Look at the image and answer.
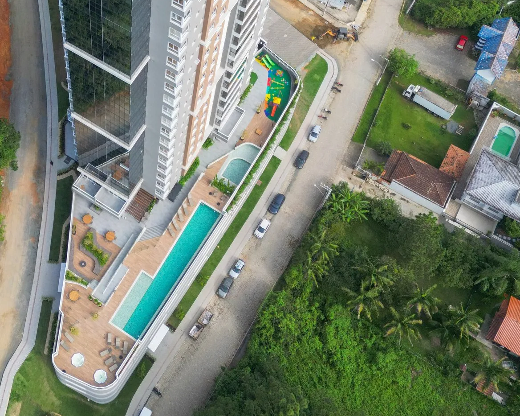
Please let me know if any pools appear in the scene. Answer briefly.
Yes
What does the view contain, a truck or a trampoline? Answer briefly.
truck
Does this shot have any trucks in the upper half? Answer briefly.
Yes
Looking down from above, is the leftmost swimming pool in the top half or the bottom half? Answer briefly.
bottom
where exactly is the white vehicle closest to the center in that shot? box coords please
[254,216,272,240]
